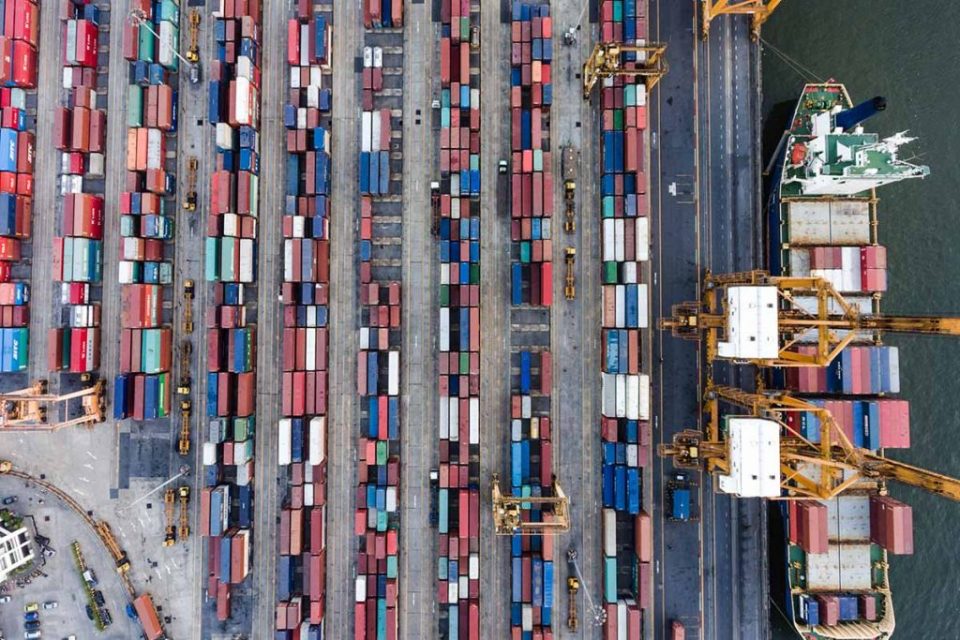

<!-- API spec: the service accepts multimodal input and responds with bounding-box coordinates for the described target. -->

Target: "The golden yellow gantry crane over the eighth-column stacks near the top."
[580,41,673,103]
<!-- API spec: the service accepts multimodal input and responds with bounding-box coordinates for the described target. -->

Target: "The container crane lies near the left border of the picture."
[0,386,103,426]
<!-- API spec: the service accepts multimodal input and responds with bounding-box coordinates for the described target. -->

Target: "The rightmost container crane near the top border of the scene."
[706,0,790,54]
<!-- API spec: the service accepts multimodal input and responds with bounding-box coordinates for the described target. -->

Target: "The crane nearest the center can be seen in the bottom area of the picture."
[488,476,573,528]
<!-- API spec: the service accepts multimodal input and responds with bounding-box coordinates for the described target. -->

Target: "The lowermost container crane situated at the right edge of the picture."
[653,379,960,499]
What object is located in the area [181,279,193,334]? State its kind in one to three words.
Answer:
vehicle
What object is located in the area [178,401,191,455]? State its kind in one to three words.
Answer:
vehicle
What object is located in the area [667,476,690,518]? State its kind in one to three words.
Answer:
truck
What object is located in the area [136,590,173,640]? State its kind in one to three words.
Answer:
truck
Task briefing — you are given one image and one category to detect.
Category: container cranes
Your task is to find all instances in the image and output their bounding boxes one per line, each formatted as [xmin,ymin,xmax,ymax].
[488,476,573,528]
[653,379,960,499]
[580,41,673,103]
[652,267,960,379]
[0,386,103,426]
[706,0,790,54]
